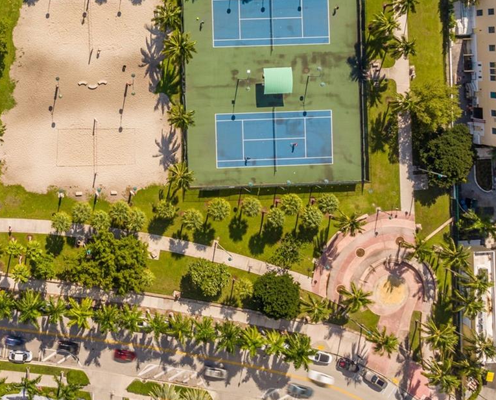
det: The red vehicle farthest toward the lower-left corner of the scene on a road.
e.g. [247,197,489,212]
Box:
[113,349,137,362]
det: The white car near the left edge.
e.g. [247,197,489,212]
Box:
[8,351,30,363]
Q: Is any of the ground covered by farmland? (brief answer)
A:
No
